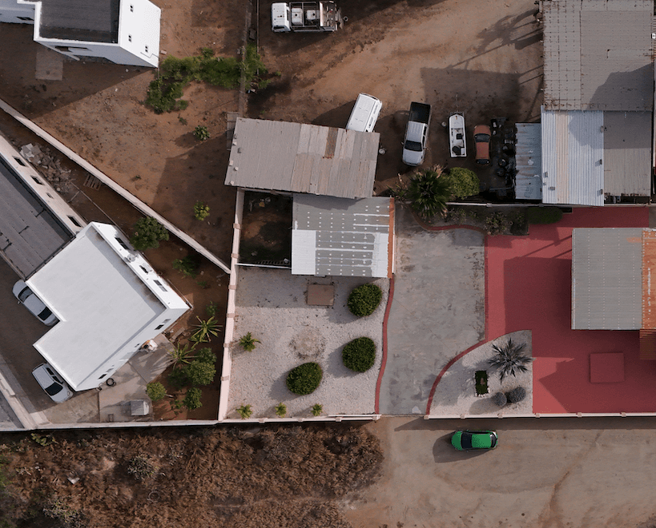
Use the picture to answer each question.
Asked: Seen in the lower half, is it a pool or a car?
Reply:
car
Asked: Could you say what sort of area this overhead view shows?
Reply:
residential area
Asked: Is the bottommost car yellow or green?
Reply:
green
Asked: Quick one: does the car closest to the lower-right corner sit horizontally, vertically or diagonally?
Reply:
horizontally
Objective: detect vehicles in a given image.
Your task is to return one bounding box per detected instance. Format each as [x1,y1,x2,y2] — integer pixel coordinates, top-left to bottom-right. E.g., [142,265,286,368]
[10,280,60,332]
[269,0,342,32]
[470,124,493,166]
[401,100,432,167]
[343,92,380,131]
[26,361,74,406]
[452,429,499,453]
